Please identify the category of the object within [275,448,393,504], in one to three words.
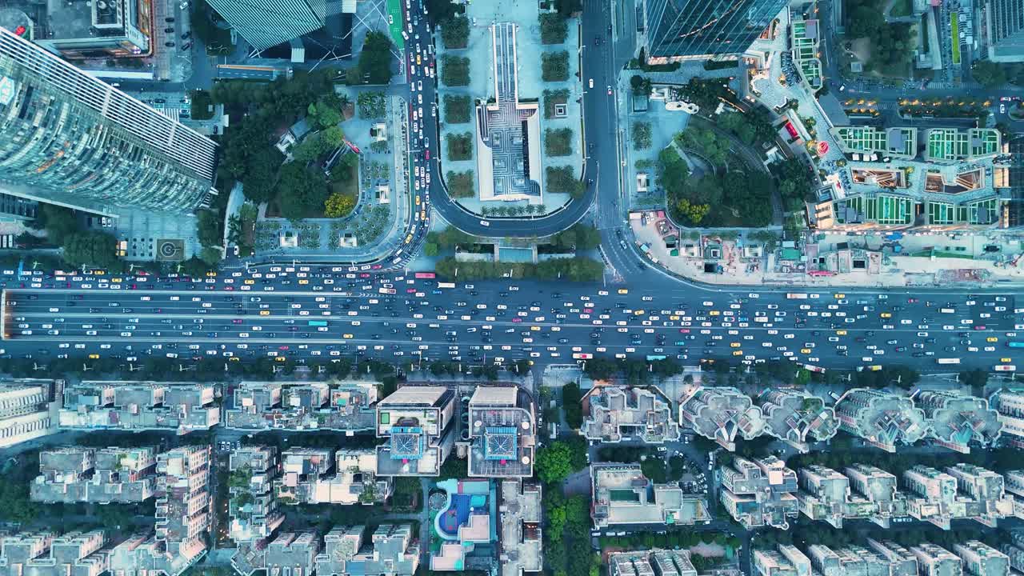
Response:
building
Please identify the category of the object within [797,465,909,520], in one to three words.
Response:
building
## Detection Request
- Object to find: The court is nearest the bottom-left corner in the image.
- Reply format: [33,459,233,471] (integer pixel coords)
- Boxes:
[439,494,489,535]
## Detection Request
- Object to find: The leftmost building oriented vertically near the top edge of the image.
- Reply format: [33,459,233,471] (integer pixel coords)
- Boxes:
[476,21,543,206]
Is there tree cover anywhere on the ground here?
Yes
